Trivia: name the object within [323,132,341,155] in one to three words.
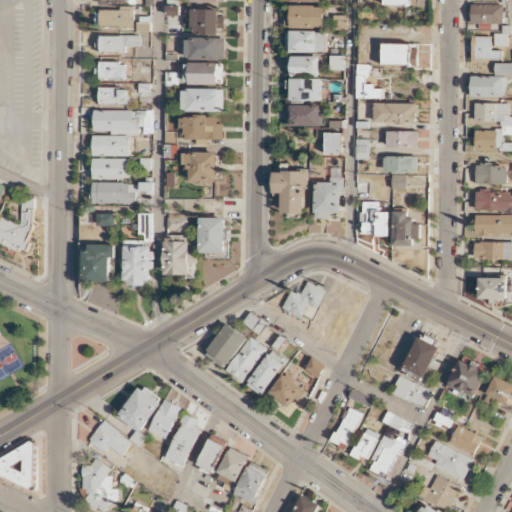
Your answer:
building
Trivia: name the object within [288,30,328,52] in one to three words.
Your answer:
house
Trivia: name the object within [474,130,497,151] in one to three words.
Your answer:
house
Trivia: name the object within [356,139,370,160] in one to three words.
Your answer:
building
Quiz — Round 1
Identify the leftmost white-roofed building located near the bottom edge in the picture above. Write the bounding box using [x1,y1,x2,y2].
[0,442,32,490]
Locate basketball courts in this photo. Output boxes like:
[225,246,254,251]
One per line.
[0,344,23,379]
